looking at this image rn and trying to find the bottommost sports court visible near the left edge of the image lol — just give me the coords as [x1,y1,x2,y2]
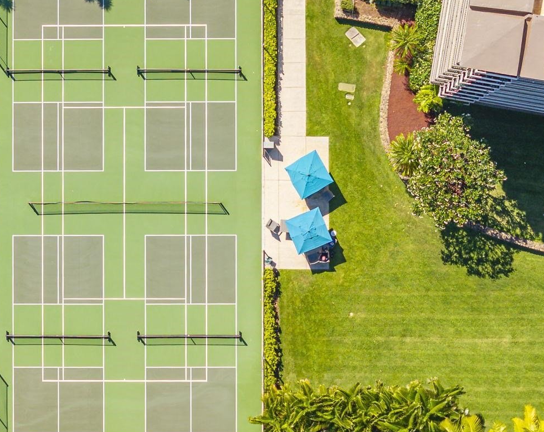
[12,235,104,432]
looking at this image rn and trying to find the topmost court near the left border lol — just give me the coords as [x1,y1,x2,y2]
[12,0,104,172]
